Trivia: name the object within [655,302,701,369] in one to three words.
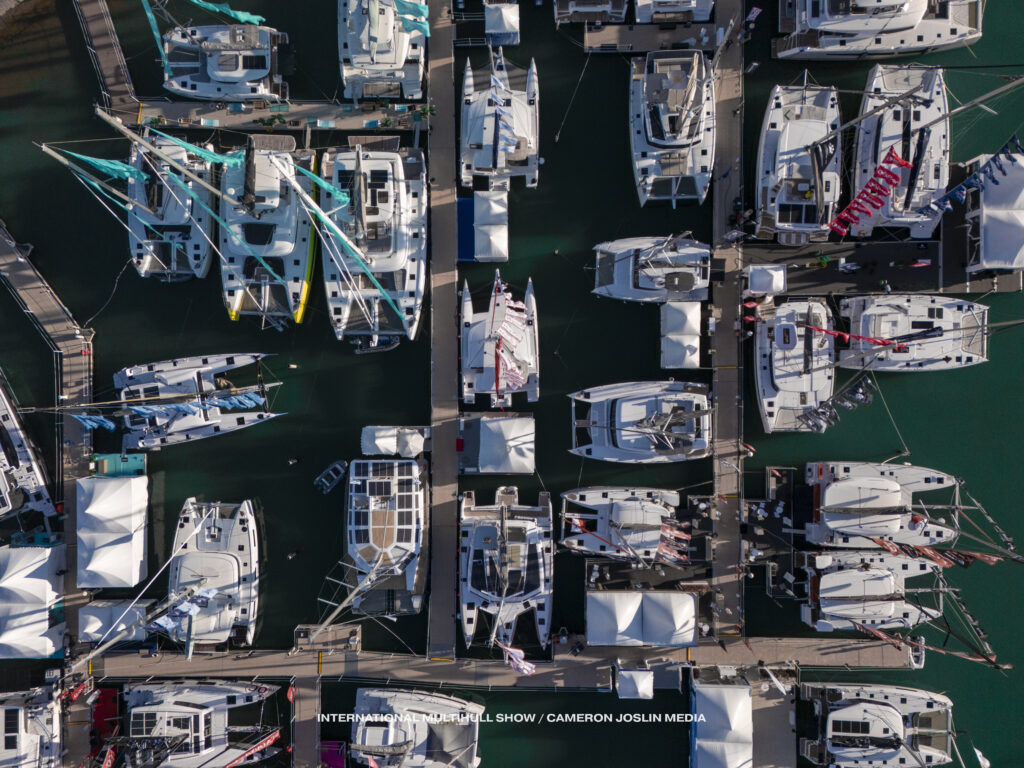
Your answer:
tent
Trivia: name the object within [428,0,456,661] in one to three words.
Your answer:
pier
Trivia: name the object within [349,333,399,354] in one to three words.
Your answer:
boat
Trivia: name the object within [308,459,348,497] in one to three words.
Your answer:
boat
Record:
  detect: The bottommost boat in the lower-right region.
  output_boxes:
[799,684,967,768]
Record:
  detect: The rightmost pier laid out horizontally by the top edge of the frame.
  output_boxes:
[584,24,716,54]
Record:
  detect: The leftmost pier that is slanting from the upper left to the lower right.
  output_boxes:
[0,220,95,353]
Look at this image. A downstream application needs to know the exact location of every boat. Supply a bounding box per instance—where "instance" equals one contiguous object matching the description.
[637,0,712,24]
[456,486,553,662]
[87,684,285,768]
[138,0,289,99]
[757,297,900,432]
[337,0,425,100]
[308,459,348,497]
[91,103,320,323]
[9,353,291,453]
[837,293,1024,372]
[295,459,427,653]
[855,59,1024,238]
[632,15,735,200]
[805,463,1024,563]
[592,229,719,306]
[754,73,926,245]
[555,0,627,24]
[37,141,211,279]
[800,552,1021,671]
[340,690,483,768]
[0,686,60,768]
[799,684,967,768]
[568,380,728,463]
[267,136,432,341]
[771,0,986,59]
[910,636,925,672]
[0,370,60,533]
[64,498,256,677]
[349,333,399,354]
[560,489,684,570]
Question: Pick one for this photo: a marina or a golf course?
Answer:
marina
